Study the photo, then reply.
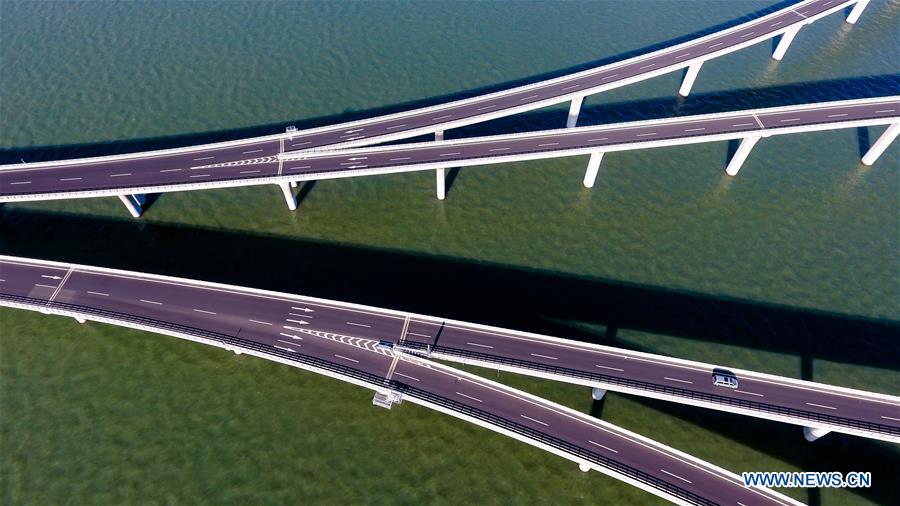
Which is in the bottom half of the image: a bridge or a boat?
bridge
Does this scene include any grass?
No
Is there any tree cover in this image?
No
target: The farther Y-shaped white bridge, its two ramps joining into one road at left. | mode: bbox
[0,0,900,217]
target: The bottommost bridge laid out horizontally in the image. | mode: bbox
[0,256,900,506]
